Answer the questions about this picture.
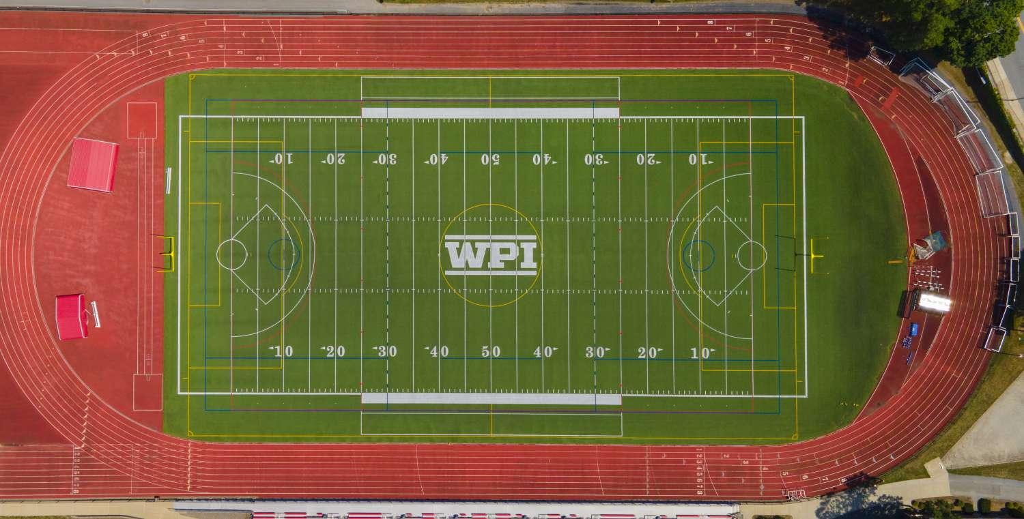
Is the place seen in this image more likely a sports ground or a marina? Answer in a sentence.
The area seen from above is a sports ground.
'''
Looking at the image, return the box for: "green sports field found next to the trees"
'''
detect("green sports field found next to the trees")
[162,68,910,445]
